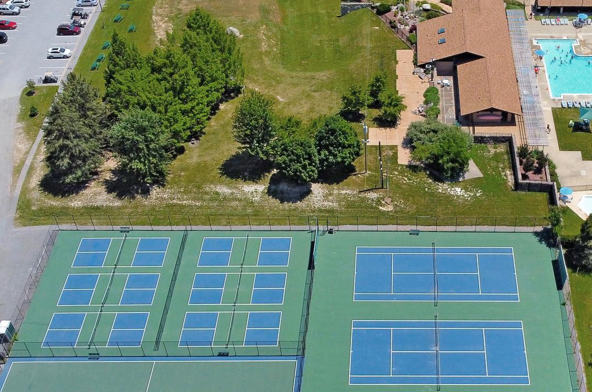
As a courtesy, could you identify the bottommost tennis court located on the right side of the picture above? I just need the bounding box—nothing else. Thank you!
[349,320,530,384]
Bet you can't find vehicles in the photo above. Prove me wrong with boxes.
[70,15,84,26]
[45,46,72,59]
[5,0,29,7]
[55,23,81,35]
[0,19,16,29]
[39,70,56,82]
[0,32,8,44]
[0,2,21,14]
[71,8,85,19]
